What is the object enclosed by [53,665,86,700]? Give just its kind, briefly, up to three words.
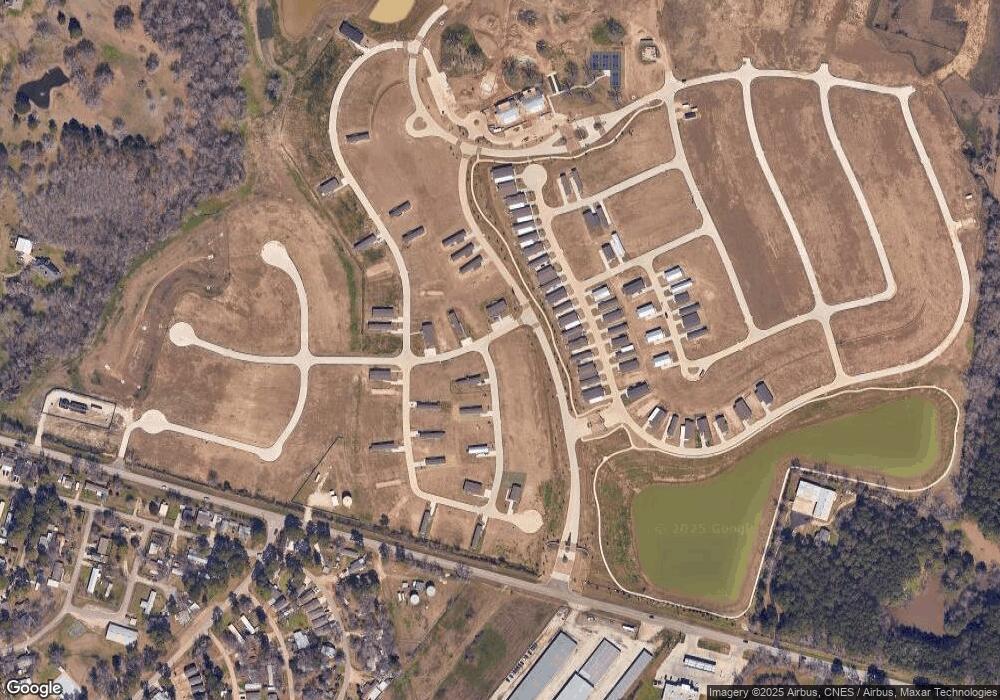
house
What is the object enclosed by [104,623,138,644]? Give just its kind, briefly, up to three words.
house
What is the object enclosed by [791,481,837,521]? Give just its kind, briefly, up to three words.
building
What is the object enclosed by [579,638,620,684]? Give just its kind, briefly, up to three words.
building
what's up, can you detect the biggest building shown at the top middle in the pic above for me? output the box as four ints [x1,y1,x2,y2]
[496,94,550,131]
